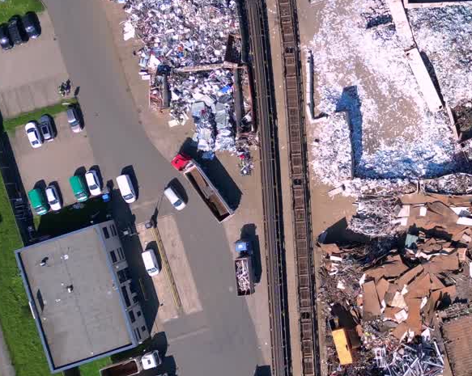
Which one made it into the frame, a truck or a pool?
truck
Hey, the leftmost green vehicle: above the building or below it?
above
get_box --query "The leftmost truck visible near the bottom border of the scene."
[98,348,164,376]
